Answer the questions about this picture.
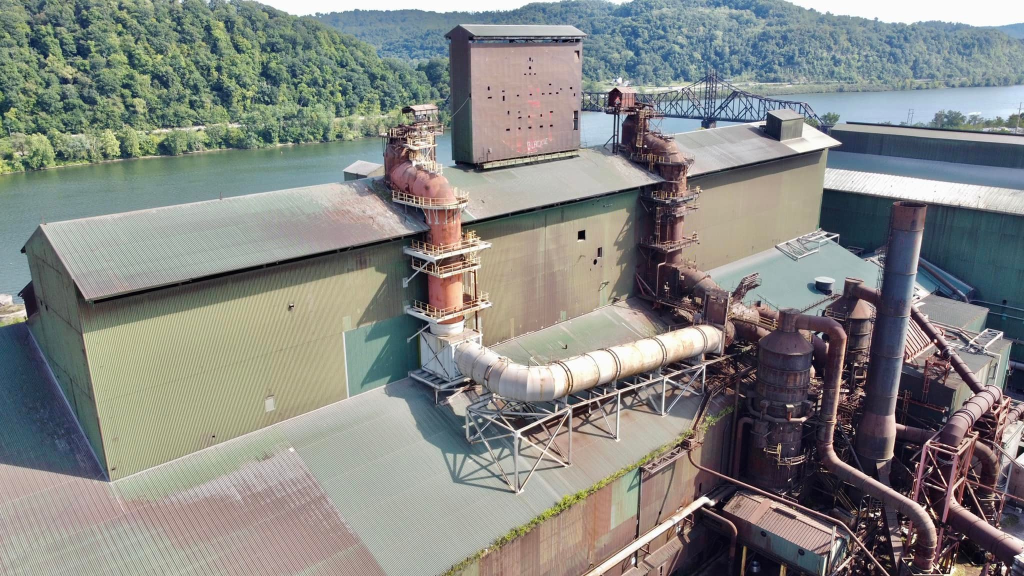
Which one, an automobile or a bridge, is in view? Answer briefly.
bridge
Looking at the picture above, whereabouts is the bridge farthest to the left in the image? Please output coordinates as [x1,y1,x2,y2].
[581,70,837,135]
